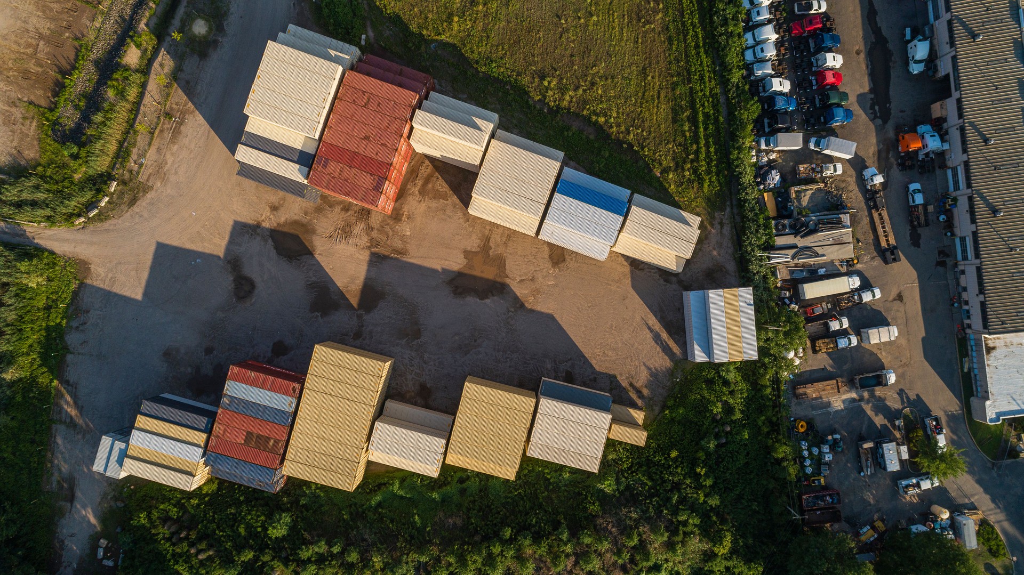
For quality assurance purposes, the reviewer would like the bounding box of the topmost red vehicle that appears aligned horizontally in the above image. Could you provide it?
[786,14,838,39]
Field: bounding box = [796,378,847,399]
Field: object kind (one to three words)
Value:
trailer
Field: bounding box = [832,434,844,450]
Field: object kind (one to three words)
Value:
vehicle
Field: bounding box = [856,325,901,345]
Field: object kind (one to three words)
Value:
vehicle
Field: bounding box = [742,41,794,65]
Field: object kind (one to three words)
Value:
truck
